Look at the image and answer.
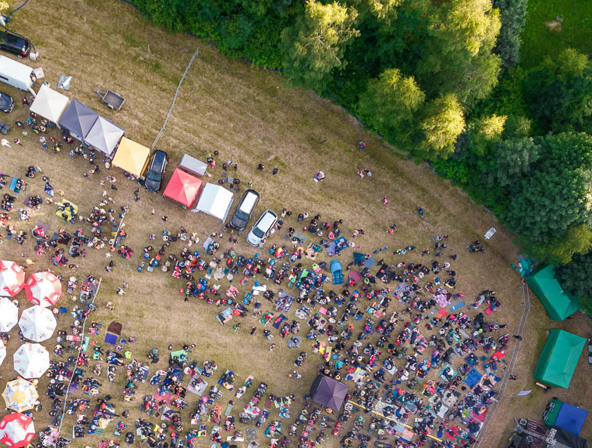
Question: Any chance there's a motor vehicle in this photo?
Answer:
Yes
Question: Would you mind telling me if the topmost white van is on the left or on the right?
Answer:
left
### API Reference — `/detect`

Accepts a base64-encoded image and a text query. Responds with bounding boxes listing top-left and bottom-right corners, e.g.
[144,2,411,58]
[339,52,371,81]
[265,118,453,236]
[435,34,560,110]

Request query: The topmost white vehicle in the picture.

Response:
[0,59,50,98]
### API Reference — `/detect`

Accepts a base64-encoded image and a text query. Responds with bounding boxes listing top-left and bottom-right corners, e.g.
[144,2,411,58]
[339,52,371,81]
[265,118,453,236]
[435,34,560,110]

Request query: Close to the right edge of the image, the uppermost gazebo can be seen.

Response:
[521,266,579,321]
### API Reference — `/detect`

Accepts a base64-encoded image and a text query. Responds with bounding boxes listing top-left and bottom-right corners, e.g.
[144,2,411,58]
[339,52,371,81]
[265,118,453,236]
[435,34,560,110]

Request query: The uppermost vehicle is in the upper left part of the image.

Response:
[0,30,34,58]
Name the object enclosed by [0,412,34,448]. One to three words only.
umbrella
